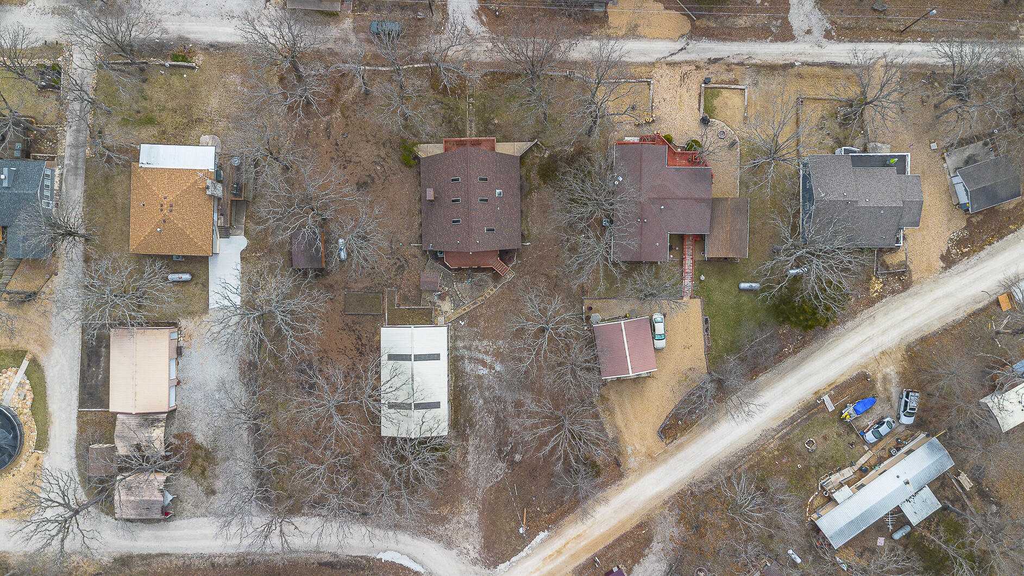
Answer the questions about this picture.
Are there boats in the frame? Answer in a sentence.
Yes, a boat appears in the view.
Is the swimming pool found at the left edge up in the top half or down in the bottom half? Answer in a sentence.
Seen from above, the swimming pool found at the left edge lies in the bottom half of the view.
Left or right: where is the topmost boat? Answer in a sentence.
The topmost boat is on the right side of the image.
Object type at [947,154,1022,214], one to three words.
shed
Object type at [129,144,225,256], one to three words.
house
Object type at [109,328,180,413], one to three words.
building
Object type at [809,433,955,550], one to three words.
house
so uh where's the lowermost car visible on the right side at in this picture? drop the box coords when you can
[861,415,897,445]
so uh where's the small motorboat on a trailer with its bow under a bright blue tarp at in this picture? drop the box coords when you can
[839,396,878,423]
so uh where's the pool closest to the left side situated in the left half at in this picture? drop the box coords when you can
[0,402,29,468]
